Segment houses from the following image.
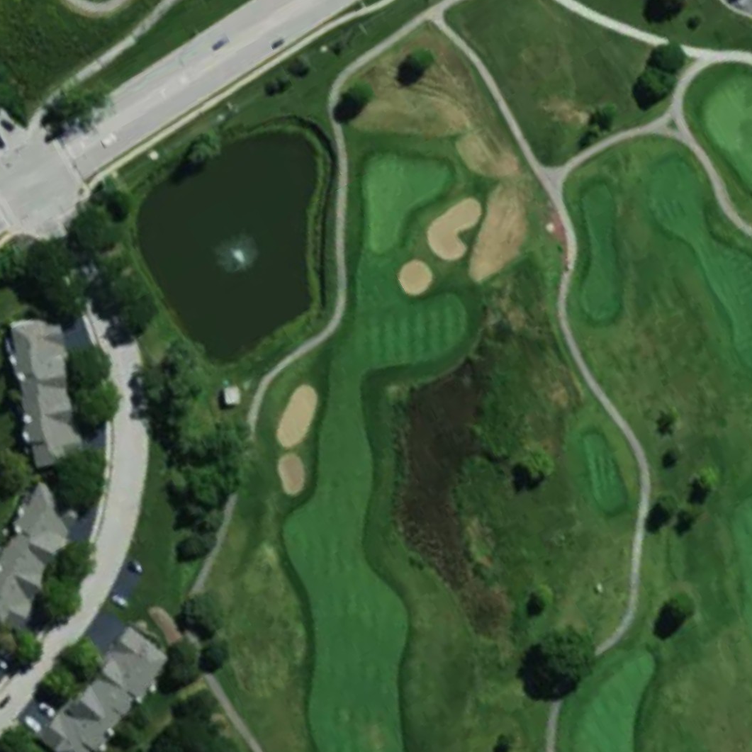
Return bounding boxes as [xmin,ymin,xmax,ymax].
[40,628,163,752]
[9,316,83,472]
[0,478,68,632]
